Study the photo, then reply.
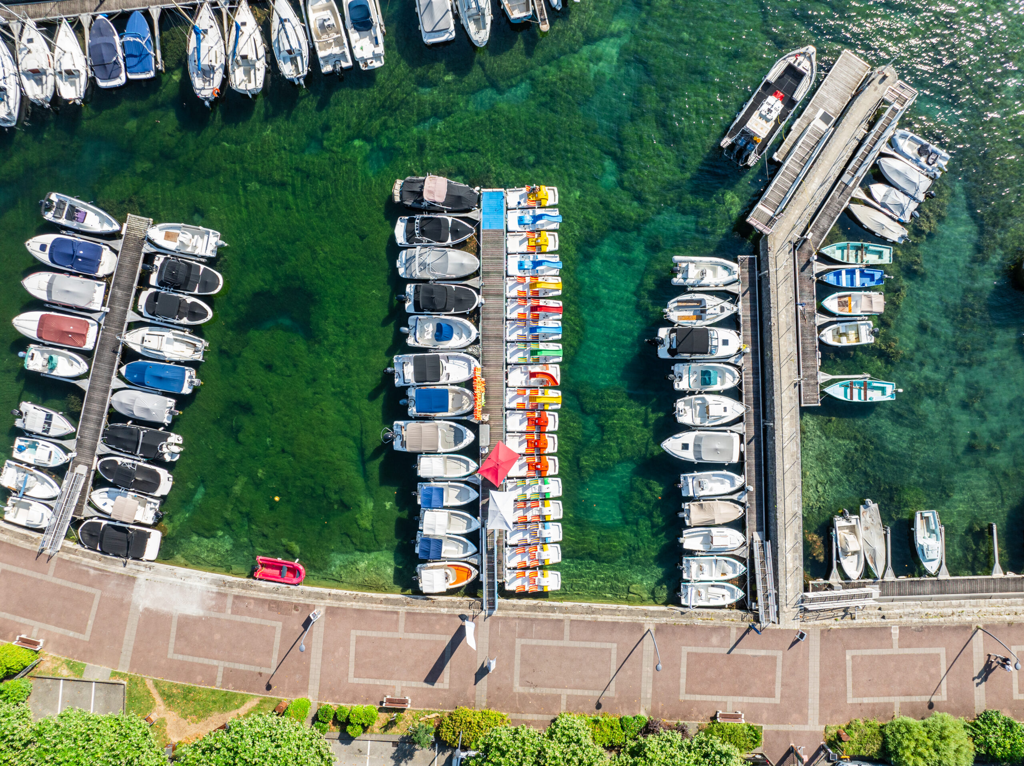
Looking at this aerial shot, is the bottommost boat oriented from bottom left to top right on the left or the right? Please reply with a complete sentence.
The bottommost boat oriented from bottom left to top right appears in the right half of the scene.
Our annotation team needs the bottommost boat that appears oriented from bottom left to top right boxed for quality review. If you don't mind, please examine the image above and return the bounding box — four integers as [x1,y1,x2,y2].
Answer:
[717,43,816,176]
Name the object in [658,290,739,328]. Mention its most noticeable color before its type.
white boat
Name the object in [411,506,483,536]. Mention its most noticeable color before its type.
white boat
